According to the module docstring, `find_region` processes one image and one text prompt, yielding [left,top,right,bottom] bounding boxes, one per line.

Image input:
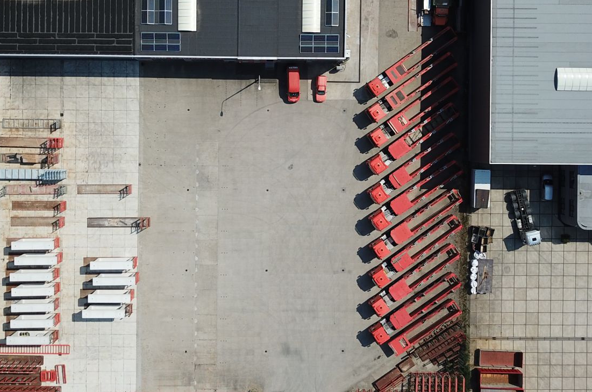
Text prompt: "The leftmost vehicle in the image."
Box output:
[285,67,301,103]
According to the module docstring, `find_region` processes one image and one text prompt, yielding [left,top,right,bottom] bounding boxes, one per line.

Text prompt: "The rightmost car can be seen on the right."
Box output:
[540,173,554,200]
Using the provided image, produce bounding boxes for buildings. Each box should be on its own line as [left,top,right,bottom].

[0,0,351,66]
[467,0,592,167]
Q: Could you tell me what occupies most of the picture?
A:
paved ground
